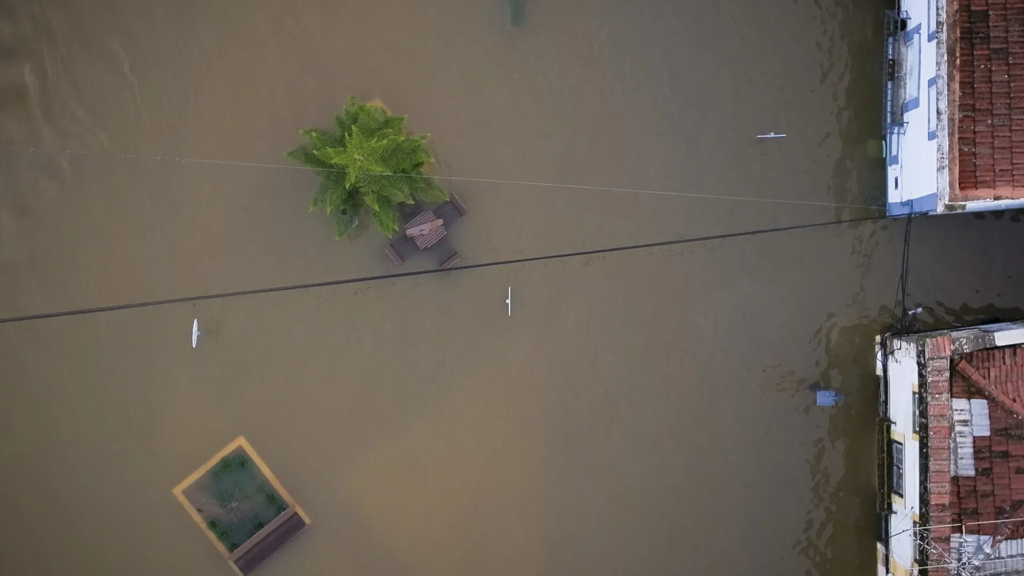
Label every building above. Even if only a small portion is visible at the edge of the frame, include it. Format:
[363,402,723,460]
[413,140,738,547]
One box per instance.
[877,0,1024,219]
[867,316,1024,576]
